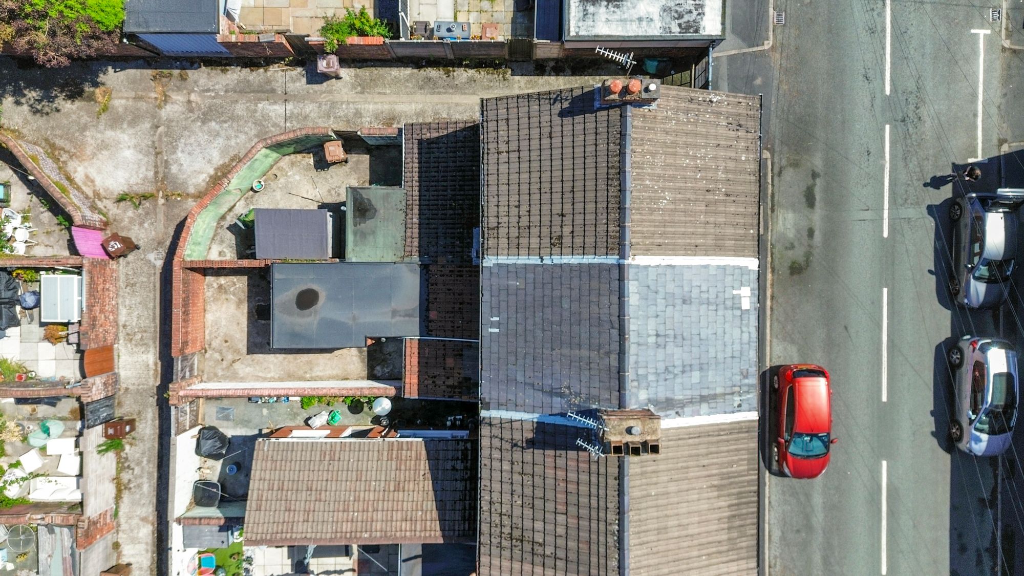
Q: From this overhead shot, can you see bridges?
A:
No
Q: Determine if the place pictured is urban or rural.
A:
urban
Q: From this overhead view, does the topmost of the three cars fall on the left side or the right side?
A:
right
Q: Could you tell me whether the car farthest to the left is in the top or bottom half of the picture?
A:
bottom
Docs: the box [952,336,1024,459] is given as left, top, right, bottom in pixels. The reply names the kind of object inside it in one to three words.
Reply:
car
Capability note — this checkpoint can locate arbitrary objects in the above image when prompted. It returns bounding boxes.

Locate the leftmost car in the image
[776,366,841,479]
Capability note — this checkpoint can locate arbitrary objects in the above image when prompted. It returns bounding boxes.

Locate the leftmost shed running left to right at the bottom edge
[183,525,242,548]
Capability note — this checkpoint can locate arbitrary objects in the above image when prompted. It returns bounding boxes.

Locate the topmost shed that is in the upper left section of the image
[124,0,239,59]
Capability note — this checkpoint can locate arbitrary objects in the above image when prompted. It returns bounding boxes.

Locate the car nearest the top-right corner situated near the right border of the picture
[952,194,1024,313]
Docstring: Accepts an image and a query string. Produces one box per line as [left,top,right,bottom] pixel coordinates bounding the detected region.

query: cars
[776,366,841,479]
[952,194,1024,313]
[952,336,1024,459]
